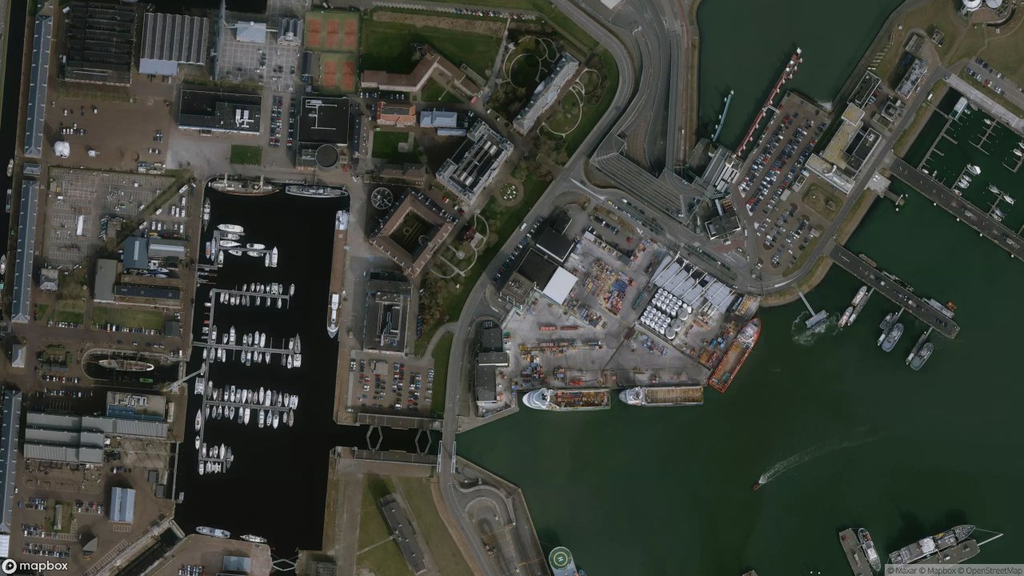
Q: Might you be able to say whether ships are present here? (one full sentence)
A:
Yes, looking at the shot, I can spot a ship.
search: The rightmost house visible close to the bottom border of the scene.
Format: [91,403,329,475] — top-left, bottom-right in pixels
[382,494,426,574]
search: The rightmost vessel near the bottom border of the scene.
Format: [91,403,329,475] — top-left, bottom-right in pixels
[888,525,975,569]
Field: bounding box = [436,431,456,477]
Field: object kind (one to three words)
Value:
bridge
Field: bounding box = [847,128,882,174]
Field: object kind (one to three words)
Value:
building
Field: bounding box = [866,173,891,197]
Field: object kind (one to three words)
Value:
pier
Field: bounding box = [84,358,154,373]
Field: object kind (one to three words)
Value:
ship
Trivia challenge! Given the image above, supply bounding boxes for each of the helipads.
[548,548,572,571]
